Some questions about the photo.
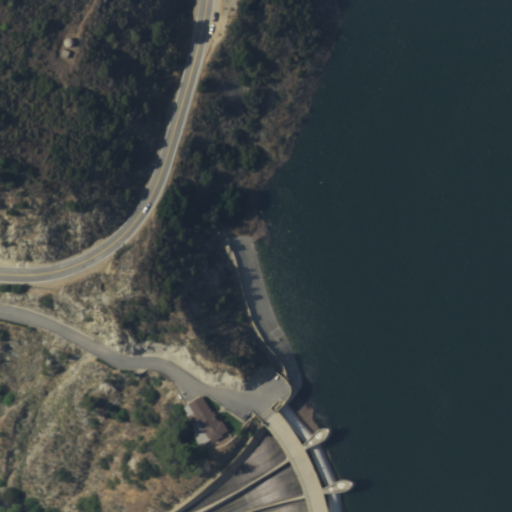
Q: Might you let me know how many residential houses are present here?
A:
one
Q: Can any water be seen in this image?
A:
Yes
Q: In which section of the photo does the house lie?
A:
bottom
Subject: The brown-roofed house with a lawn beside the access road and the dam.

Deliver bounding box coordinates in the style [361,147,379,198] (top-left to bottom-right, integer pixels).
[186,396,230,442]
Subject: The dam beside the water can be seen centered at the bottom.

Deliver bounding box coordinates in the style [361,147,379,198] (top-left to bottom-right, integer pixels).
[172,397,350,512]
